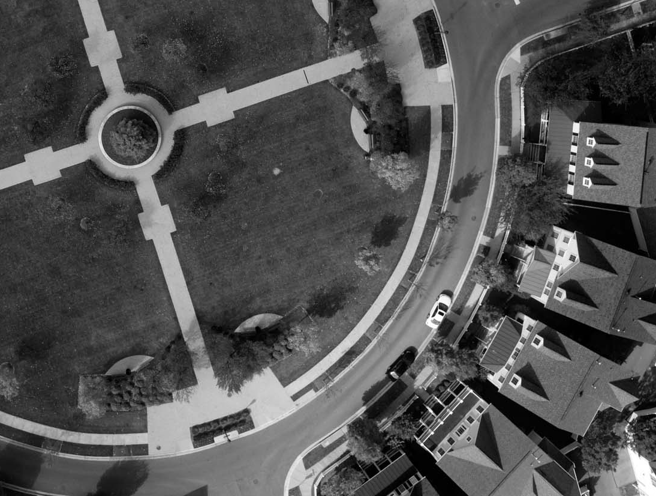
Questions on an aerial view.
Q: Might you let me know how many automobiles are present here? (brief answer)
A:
two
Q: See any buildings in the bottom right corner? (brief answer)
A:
Yes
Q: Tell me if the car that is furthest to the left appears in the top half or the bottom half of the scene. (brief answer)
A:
bottom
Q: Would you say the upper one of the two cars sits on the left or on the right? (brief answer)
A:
right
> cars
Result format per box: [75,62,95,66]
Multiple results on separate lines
[385,343,417,382]
[425,291,455,331]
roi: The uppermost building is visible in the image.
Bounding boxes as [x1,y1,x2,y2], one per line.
[520,108,656,208]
